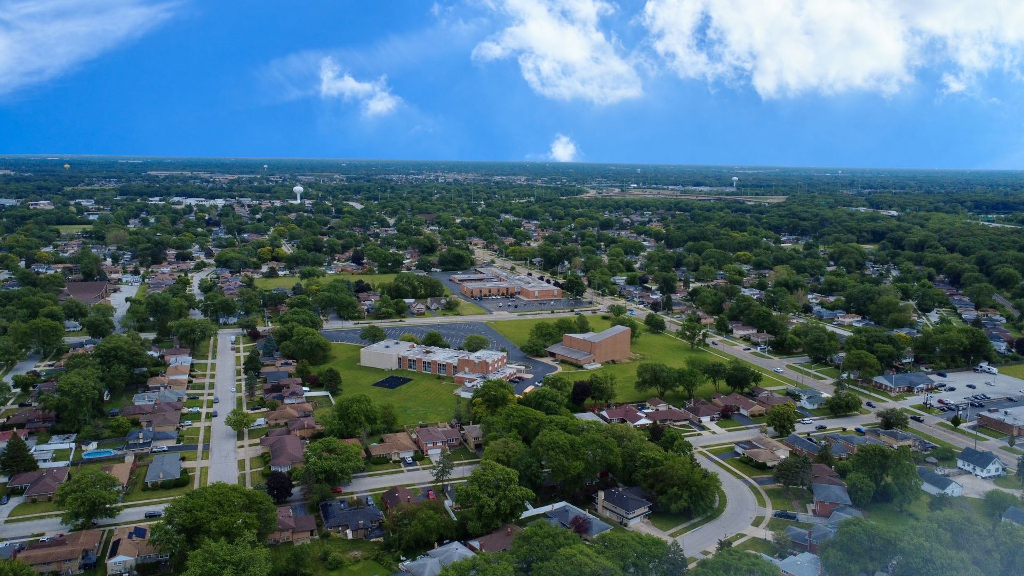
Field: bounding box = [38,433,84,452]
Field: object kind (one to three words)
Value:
shed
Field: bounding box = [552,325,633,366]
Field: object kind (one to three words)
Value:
building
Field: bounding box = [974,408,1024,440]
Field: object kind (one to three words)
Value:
building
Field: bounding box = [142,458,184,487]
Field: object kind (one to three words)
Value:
house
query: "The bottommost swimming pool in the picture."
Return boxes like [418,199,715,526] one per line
[80,448,119,462]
